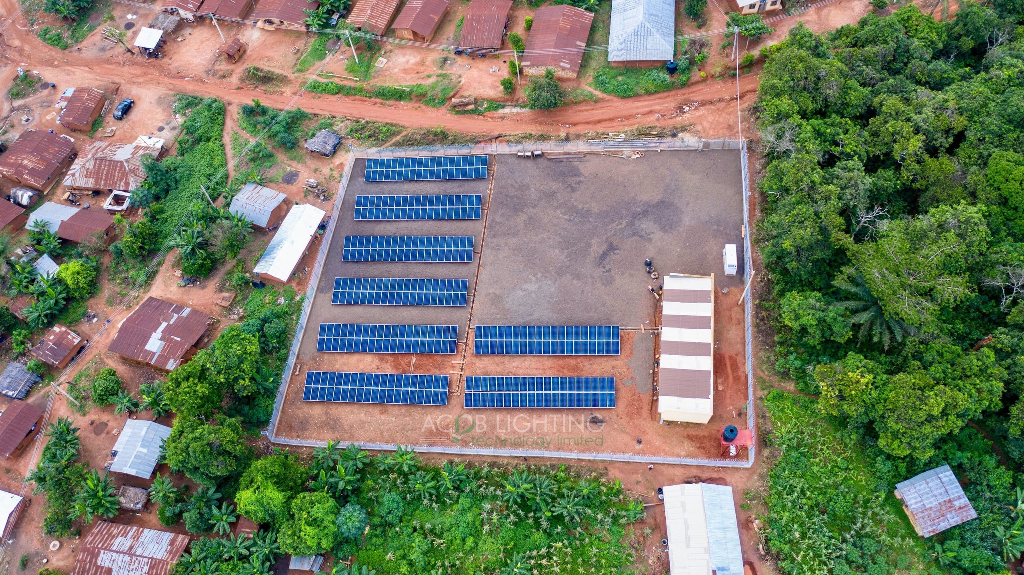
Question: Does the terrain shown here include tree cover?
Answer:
Yes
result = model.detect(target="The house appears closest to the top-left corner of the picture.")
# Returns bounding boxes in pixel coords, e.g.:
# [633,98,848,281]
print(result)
[54,87,105,134]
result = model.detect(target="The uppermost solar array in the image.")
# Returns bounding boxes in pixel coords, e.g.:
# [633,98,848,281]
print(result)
[364,158,488,182]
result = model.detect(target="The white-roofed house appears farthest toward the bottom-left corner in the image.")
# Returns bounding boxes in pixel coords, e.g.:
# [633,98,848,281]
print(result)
[0,489,31,541]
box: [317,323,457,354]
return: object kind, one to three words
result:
solar array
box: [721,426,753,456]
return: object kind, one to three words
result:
water tower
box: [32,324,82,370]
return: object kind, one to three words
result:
shed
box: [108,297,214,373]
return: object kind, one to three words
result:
house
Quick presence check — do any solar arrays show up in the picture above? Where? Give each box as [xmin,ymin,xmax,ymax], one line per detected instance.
[317,323,457,354]
[342,236,474,262]
[303,371,449,405]
[364,158,488,182]
[464,376,615,413]
[332,278,468,306]
[354,195,482,220]
[473,325,619,357]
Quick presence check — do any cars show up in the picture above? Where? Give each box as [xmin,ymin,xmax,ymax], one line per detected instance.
[112,98,132,119]
[327,7,347,26]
